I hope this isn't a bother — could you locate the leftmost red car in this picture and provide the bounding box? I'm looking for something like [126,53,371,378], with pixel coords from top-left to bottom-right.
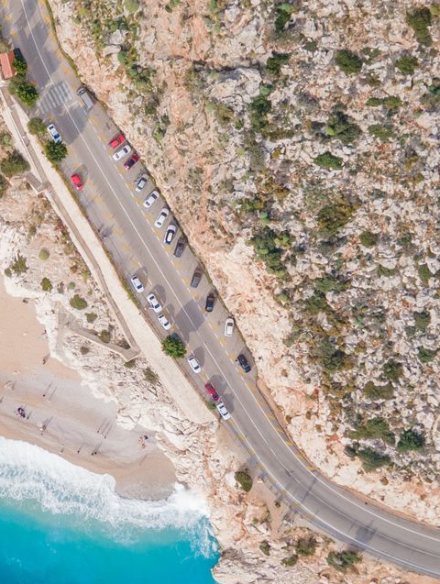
[69,173,83,191]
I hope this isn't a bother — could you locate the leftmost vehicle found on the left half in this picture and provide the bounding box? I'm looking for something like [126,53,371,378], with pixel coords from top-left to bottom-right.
[47,124,62,143]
